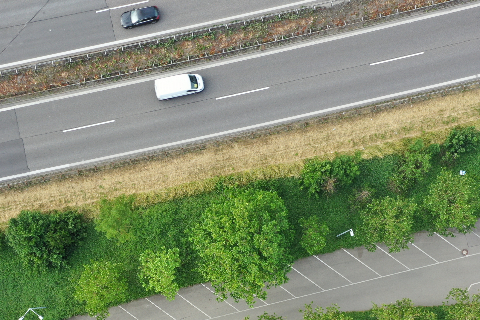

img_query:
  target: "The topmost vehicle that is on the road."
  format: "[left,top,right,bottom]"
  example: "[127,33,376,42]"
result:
[120,4,161,29]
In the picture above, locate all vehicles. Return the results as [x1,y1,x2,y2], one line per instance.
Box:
[154,72,204,101]
[120,4,161,29]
